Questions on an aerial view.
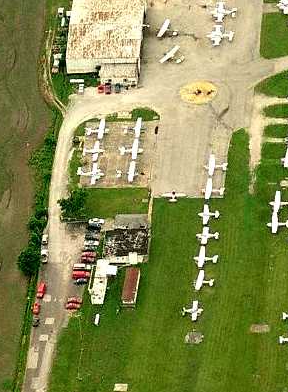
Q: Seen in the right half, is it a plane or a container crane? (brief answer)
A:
plane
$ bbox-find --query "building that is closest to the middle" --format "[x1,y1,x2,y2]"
[102,214,151,266]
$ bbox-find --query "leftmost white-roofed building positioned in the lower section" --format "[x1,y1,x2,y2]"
[86,257,123,312]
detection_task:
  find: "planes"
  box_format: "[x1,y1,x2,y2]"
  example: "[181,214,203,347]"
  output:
[269,191,288,212]
[78,163,103,183]
[278,0,288,12]
[266,212,288,234]
[156,20,177,37]
[201,178,224,199]
[80,140,105,160]
[211,1,237,21]
[120,139,144,159]
[180,301,202,320]
[281,151,288,168]
[118,161,140,182]
[159,45,184,63]
[194,247,216,268]
[209,24,234,45]
[279,337,288,344]
[197,227,217,244]
[193,270,214,291]
[125,118,147,138]
[203,155,226,175]
[157,189,187,206]
[198,204,219,225]
[88,119,110,139]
